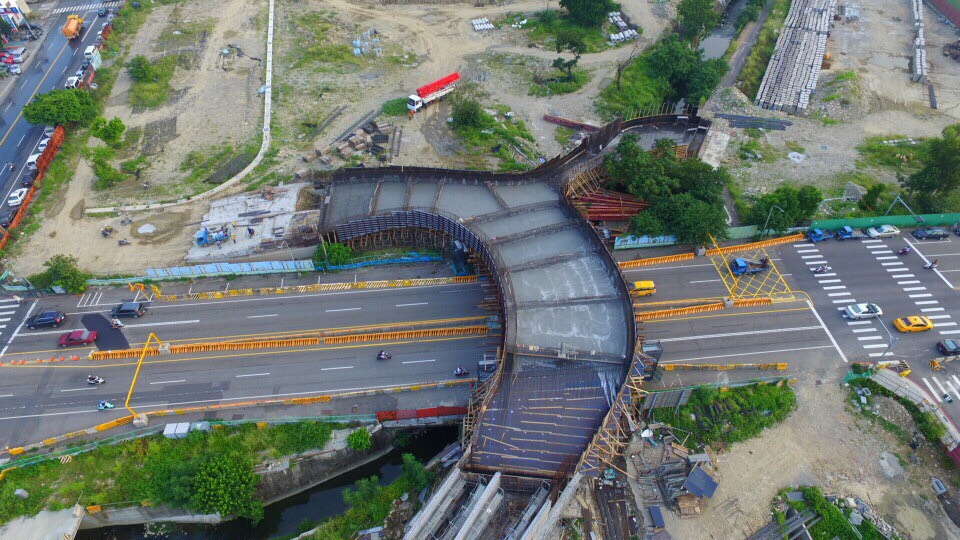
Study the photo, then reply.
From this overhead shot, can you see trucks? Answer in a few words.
Yes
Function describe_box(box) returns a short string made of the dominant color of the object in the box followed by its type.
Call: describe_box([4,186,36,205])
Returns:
white car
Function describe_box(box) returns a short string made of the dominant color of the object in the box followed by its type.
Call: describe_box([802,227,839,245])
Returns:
blue vehicle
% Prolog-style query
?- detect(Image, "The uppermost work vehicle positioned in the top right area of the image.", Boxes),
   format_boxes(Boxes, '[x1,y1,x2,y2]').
[818,46,837,68]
